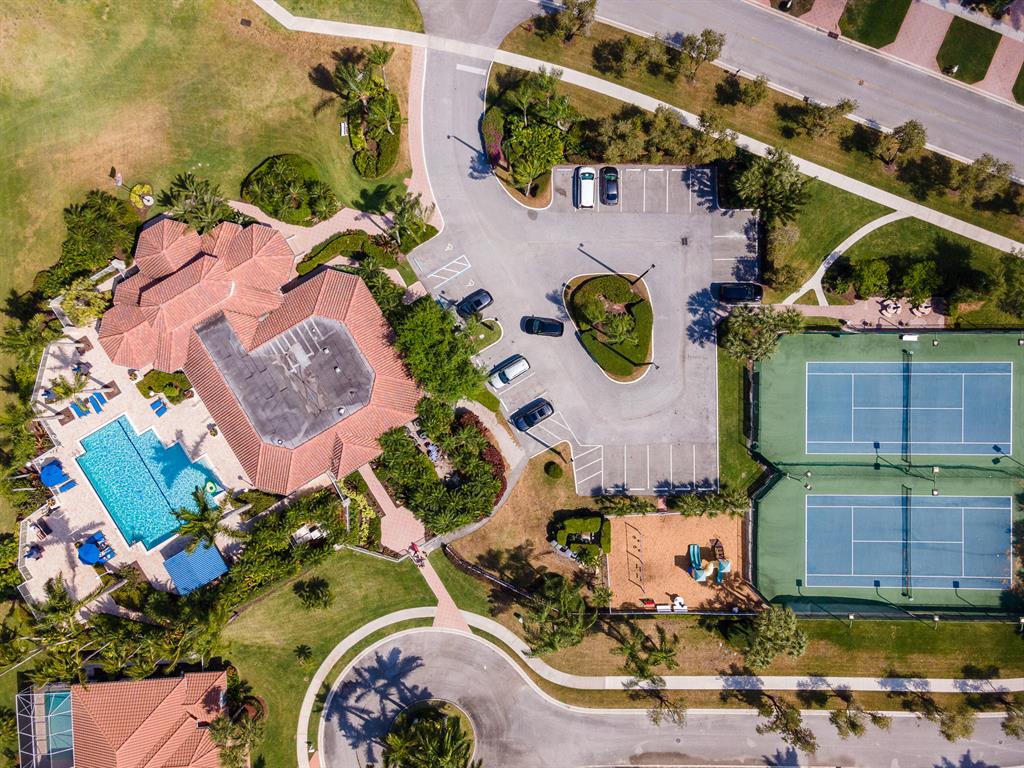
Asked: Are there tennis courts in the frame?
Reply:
Yes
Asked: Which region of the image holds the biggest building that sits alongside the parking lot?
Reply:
left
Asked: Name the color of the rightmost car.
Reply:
black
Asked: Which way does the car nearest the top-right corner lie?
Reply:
from left to right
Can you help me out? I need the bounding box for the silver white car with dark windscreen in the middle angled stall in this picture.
[487,356,530,389]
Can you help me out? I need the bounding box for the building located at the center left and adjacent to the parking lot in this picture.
[98,218,423,496]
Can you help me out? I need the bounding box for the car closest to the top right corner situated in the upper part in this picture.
[712,282,760,302]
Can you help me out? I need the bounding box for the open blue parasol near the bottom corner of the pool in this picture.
[78,540,103,565]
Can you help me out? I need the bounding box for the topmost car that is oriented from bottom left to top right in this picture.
[455,288,496,319]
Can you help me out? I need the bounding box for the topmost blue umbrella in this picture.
[42,461,67,486]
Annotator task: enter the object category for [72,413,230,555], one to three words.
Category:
swimming pool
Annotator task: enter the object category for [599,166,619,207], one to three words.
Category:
car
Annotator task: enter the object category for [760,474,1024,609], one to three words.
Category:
tennis court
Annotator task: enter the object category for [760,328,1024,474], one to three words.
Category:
tennis court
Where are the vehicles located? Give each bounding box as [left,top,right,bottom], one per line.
[521,316,565,337]
[511,397,554,430]
[599,166,619,207]
[487,356,530,389]
[712,282,760,302]
[455,288,496,319]
[575,167,595,210]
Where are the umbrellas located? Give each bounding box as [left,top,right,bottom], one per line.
[42,461,67,486]
[78,540,103,565]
